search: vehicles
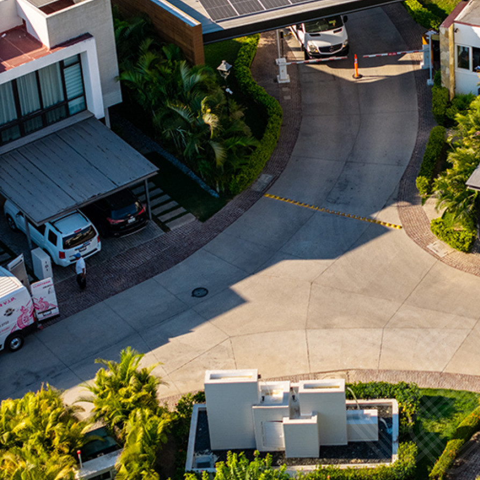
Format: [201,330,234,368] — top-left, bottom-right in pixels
[306,17,353,58]
[78,188,147,237]
[0,268,56,364]
[2,202,101,267]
